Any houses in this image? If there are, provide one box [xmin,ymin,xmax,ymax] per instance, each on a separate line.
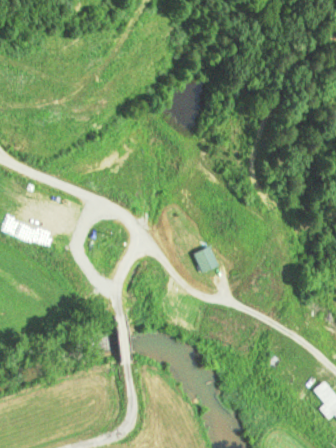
[314,382,336,420]
[194,247,218,273]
